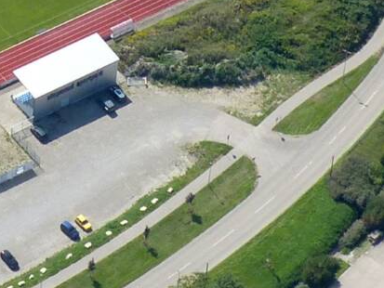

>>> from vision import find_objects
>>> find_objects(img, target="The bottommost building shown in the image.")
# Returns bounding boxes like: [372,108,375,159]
[8,34,117,119]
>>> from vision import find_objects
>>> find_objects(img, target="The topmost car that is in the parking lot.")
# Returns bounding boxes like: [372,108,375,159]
[109,82,128,100]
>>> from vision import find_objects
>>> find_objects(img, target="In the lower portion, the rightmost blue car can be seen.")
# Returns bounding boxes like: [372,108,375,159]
[60,220,80,241]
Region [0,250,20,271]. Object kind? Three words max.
car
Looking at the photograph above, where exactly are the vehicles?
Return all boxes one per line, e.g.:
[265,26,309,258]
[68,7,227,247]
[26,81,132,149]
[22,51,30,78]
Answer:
[95,93,115,116]
[29,122,49,142]
[0,250,20,271]
[60,220,80,241]
[109,82,128,100]
[74,214,94,232]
